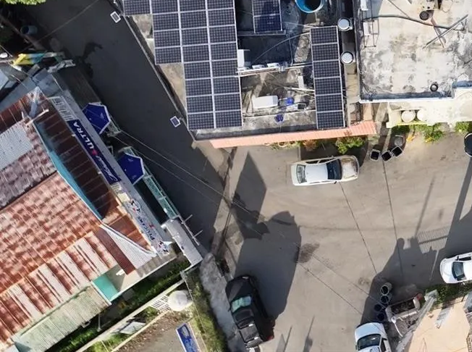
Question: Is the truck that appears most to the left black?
Yes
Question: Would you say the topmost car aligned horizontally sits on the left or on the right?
right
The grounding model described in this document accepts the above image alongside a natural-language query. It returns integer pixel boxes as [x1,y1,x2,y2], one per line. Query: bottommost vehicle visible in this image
[353,319,385,352]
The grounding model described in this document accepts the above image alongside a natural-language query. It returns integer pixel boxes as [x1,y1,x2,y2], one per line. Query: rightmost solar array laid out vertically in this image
[310,26,345,130]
